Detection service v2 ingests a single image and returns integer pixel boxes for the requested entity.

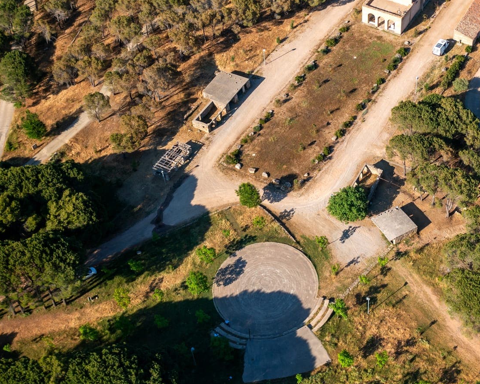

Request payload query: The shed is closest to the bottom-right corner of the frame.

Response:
[370,207,417,249]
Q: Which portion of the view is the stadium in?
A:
bottom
